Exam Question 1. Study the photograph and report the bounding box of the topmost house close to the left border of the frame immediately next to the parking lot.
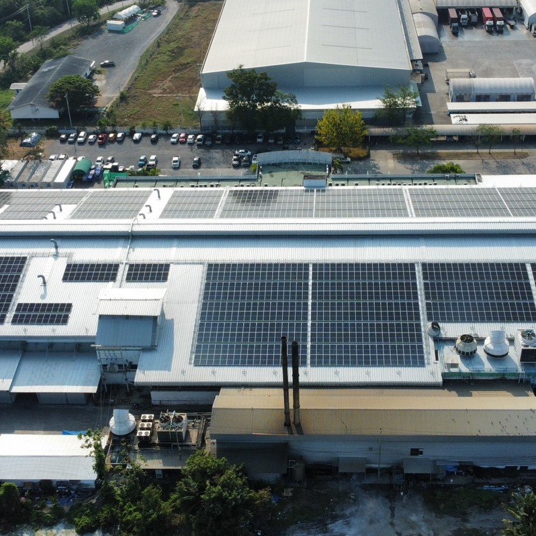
[11,54,94,123]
